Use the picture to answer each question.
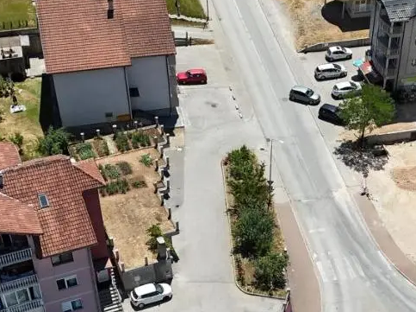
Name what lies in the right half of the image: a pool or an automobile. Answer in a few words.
automobile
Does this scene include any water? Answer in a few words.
No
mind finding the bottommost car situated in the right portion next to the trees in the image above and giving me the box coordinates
[316,99,352,123]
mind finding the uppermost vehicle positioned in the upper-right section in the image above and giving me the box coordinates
[323,46,355,63]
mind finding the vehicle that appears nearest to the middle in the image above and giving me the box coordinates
[176,67,208,85]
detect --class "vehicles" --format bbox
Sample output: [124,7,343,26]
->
[315,62,348,80]
[323,46,355,63]
[126,280,176,309]
[331,79,362,98]
[287,83,321,105]
[176,67,208,85]
[316,99,352,123]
